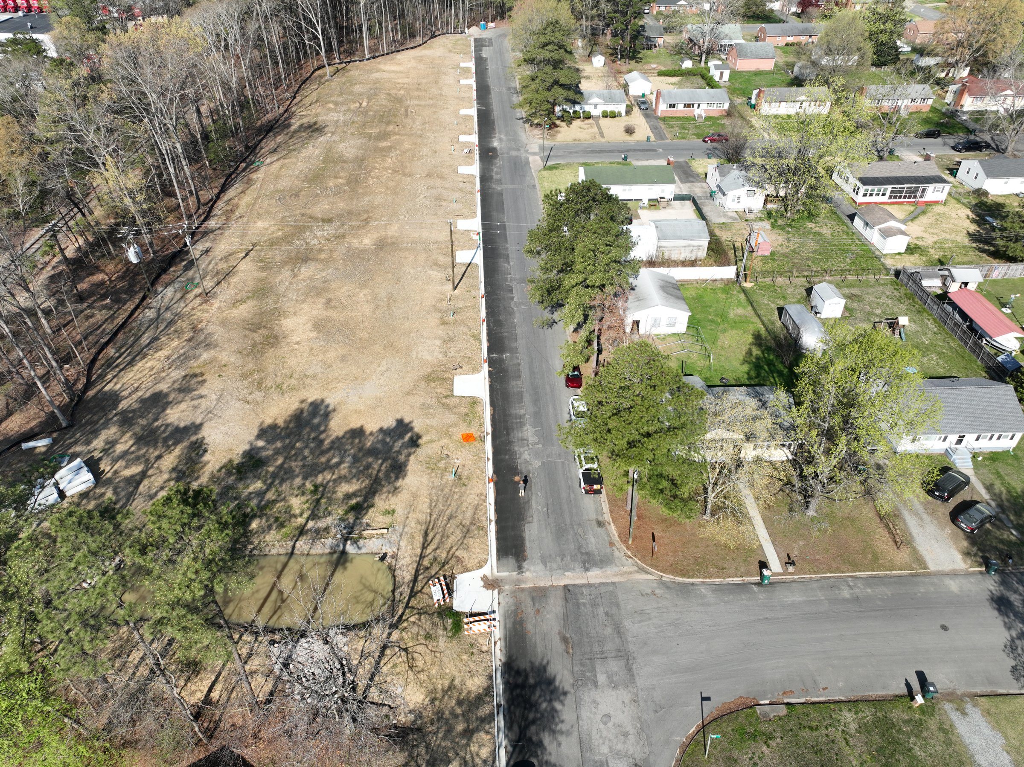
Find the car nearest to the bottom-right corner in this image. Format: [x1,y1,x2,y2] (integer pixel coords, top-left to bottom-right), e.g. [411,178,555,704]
[958,493,1001,536]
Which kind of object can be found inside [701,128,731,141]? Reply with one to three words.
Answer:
vehicle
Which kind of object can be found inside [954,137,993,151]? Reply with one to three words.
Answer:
vehicle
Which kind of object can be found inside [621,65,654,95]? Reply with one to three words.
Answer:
building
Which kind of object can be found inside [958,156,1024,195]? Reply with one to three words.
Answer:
house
